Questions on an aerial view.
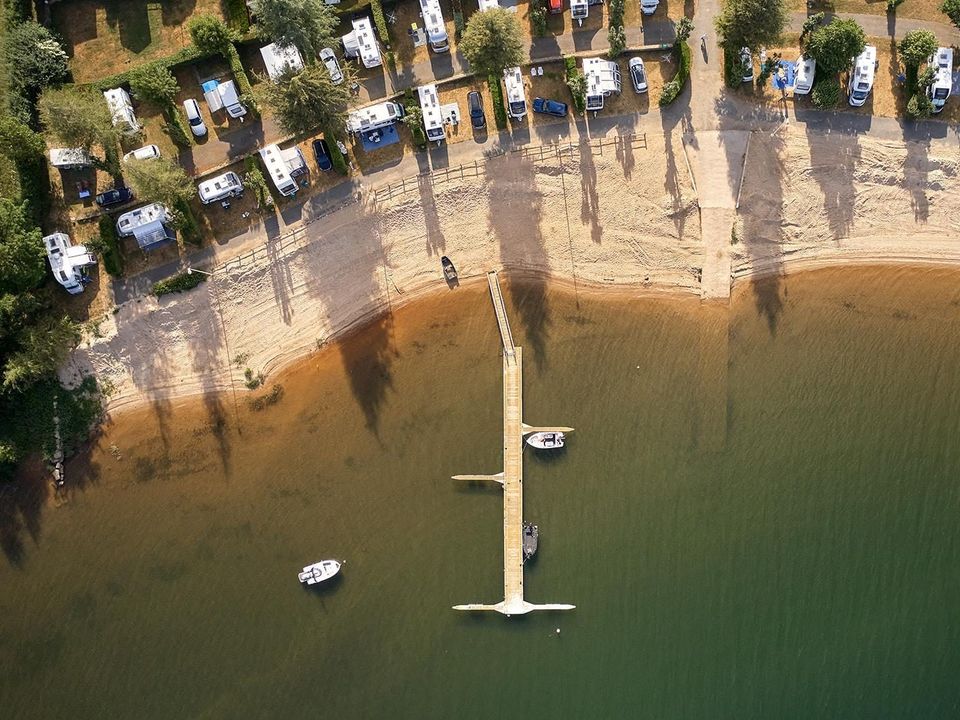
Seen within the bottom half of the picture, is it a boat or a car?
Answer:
boat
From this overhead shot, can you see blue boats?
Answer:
No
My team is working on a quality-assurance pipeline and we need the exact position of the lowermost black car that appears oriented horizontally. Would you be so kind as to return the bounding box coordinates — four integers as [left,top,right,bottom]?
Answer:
[96,188,136,210]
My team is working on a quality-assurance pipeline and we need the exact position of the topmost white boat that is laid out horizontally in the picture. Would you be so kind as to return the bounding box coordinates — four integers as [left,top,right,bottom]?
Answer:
[523,431,567,451]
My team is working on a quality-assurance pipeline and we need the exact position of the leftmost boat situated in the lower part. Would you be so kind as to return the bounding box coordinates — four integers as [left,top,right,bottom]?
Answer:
[298,562,340,584]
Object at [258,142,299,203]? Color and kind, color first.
white camper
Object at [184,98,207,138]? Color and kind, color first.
white car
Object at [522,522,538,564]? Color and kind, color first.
gray boat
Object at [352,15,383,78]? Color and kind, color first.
white camper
